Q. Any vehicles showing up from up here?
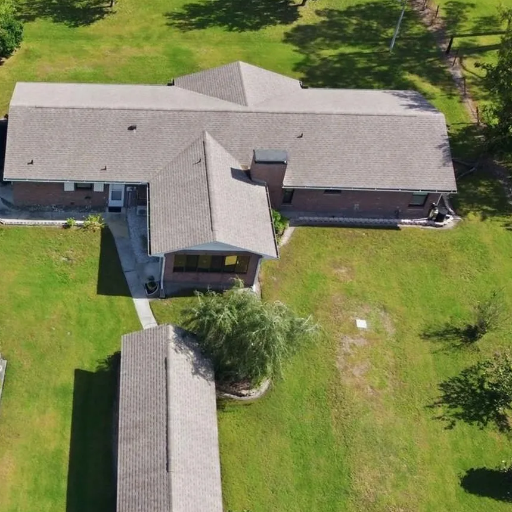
No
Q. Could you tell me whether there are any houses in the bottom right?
No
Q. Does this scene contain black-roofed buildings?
No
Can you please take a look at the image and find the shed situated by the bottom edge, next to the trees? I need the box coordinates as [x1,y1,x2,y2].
[116,323,224,512]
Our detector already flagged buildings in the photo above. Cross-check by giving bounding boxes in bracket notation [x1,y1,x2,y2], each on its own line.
[116,323,224,512]
[3,59,457,290]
